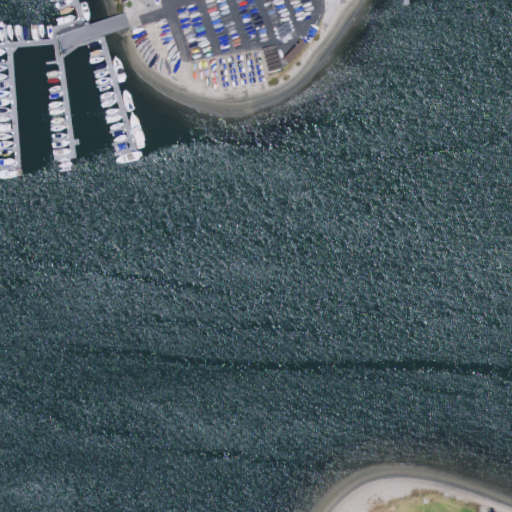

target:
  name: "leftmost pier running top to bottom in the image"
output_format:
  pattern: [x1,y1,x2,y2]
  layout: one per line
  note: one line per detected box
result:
[0,46,22,176]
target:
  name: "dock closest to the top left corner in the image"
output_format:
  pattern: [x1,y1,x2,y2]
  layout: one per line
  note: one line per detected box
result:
[0,24,54,47]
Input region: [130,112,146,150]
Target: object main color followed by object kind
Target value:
white boat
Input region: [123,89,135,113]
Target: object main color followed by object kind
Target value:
white boat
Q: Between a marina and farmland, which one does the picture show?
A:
marina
